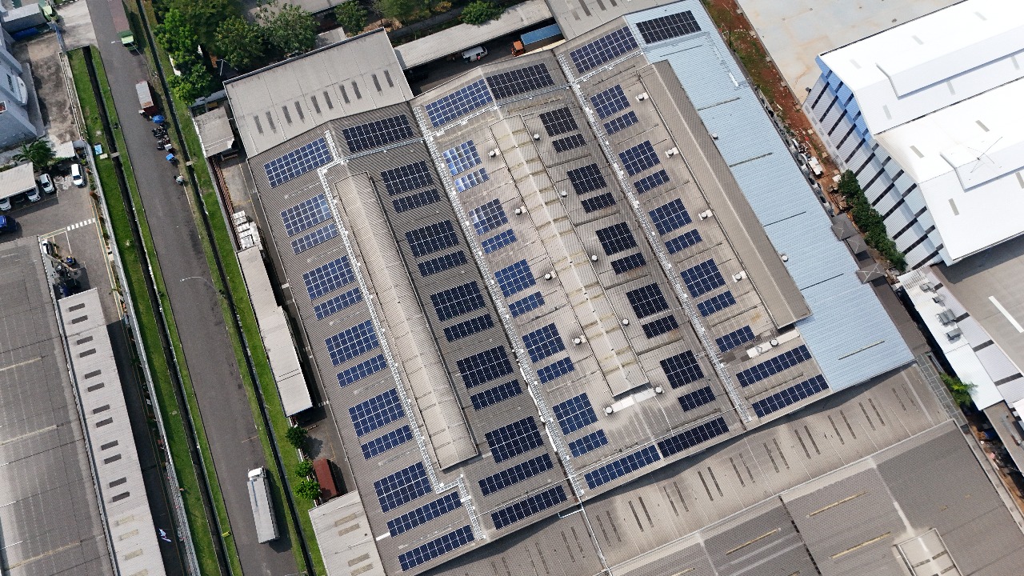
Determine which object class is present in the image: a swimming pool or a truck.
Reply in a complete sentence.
There is a truck in the scene.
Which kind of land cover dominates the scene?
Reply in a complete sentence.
The scene is dominated by buildings.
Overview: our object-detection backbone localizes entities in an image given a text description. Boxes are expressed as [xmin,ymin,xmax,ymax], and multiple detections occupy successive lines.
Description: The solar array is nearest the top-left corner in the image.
[264,138,330,186]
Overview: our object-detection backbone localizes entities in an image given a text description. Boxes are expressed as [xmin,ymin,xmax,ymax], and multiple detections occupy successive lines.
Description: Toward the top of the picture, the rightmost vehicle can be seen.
[513,26,555,54]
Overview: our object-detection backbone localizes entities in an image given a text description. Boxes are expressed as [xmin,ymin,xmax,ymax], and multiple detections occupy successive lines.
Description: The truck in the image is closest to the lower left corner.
[249,464,285,541]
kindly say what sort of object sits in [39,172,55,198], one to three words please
car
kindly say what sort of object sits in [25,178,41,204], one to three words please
car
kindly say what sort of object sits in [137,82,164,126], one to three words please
truck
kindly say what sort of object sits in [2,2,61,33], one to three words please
truck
